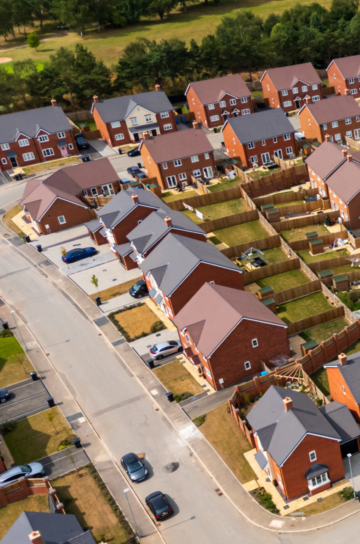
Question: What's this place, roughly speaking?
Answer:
residential area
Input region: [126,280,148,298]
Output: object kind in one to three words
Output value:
car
